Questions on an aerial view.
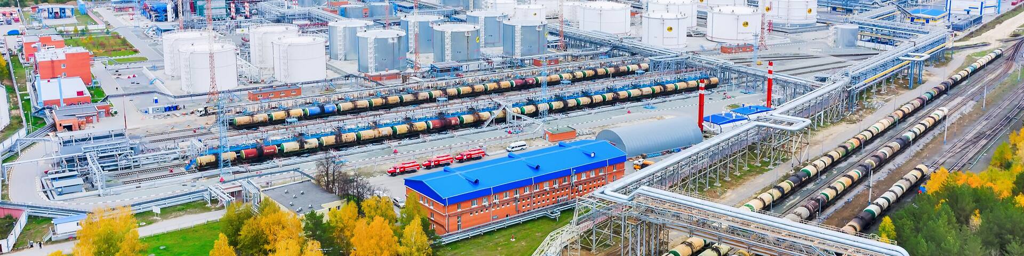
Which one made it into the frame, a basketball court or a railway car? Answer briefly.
railway car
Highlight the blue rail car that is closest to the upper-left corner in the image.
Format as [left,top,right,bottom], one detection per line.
[305,101,340,119]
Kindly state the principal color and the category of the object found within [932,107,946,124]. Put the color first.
white rail car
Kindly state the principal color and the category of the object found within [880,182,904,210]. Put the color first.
white rail car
